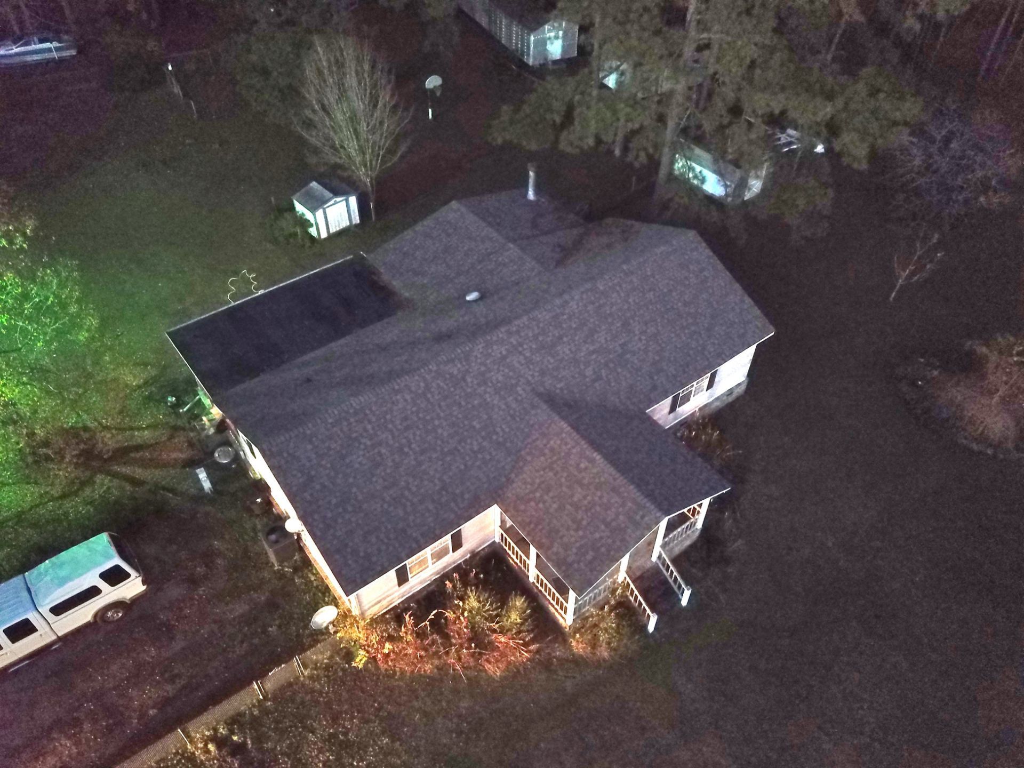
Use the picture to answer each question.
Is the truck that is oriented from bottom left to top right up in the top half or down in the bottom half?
bottom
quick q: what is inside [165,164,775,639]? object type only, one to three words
house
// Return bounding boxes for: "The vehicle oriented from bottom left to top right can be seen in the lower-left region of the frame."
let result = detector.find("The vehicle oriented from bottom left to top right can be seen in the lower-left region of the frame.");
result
[0,534,150,675]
